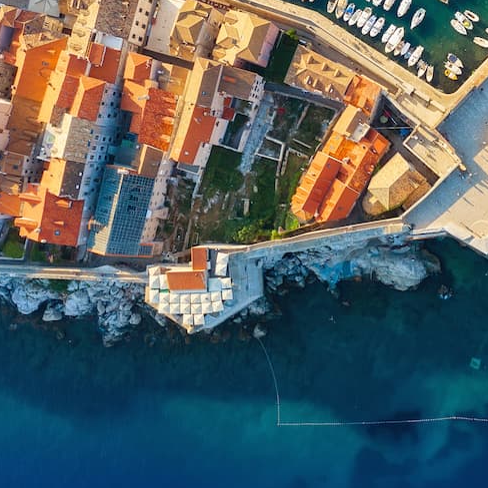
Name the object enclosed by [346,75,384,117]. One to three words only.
house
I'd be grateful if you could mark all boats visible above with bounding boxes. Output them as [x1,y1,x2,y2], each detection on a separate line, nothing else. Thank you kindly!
[410,43,424,66]
[364,14,376,33]
[345,2,354,20]
[454,9,472,28]
[336,0,347,17]
[419,58,427,77]
[385,23,396,42]
[386,24,404,52]
[465,9,479,20]
[328,0,337,13]
[413,6,426,28]
[444,68,457,77]
[372,16,385,36]
[427,63,433,82]
[398,0,412,16]
[395,39,404,55]
[447,51,462,66]
[444,61,461,72]
[450,19,468,33]
[350,8,361,24]
[472,34,488,46]
[405,48,413,60]
[402,41,411,55]
[358,6,372,27]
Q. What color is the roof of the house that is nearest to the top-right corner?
orange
